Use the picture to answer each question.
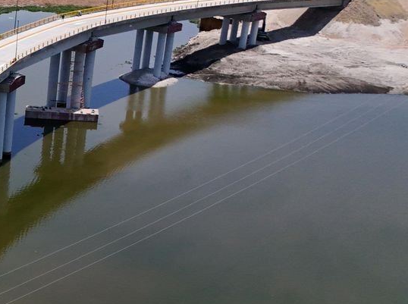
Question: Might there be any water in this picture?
Yes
